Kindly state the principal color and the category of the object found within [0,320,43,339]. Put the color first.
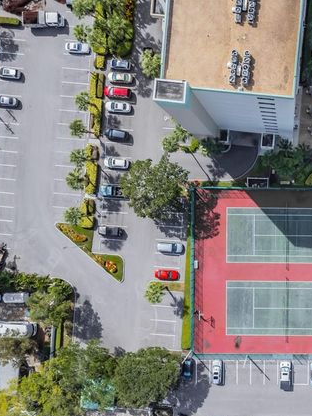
white vehicle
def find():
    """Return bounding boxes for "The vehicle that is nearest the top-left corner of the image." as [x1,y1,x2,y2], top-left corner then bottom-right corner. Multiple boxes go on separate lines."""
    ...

[20,12,64,29]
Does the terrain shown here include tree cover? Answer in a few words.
Yes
